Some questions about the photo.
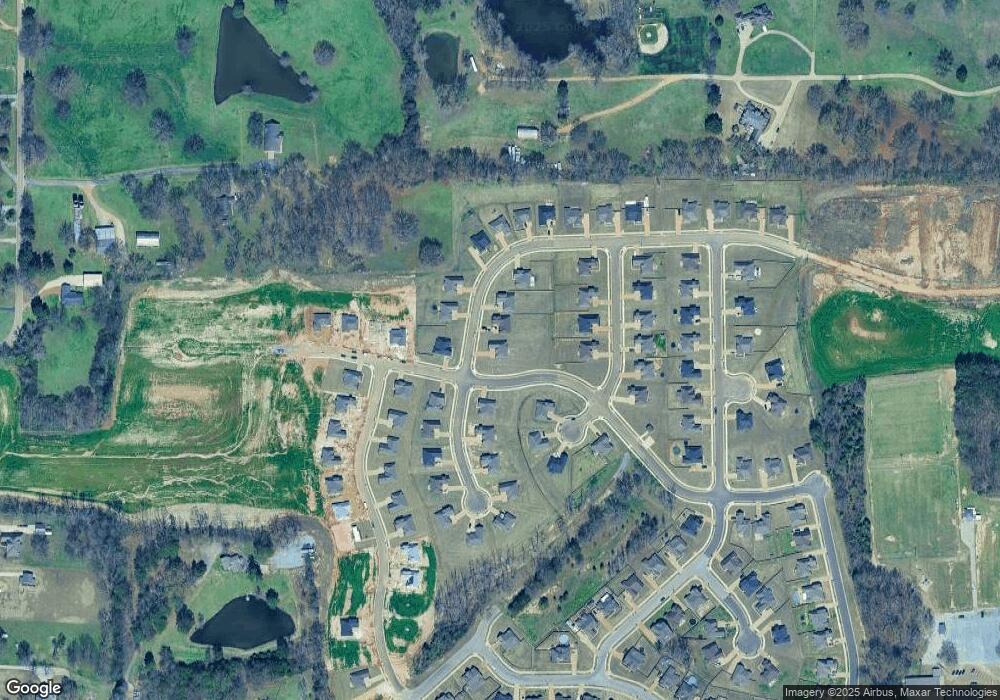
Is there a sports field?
Yes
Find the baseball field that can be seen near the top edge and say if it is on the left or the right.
right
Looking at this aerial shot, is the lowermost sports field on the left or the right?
right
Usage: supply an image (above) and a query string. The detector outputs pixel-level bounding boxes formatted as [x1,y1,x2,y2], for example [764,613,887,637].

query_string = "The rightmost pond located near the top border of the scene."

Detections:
[494,0,609,64]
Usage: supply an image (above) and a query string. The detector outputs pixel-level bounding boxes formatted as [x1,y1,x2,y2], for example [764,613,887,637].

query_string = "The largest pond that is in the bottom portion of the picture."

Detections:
[190,595,294,648]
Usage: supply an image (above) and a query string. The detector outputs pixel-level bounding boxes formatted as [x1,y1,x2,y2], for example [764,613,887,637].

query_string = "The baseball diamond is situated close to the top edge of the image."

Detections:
[639,15,707,74]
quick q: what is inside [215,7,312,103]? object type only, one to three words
pond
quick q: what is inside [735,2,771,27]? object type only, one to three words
house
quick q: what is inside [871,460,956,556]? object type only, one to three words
sports field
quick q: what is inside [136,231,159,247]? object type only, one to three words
shed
